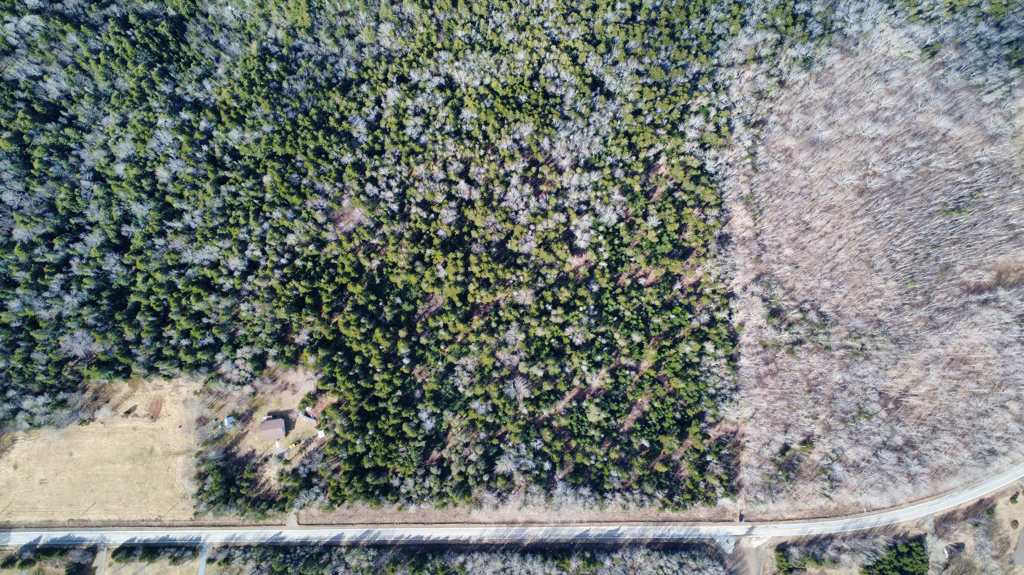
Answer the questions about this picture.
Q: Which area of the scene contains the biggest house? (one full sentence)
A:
The biggest house appears toward the bottom left of the photo.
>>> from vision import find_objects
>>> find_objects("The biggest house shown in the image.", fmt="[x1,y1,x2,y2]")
[261,416,286,441]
